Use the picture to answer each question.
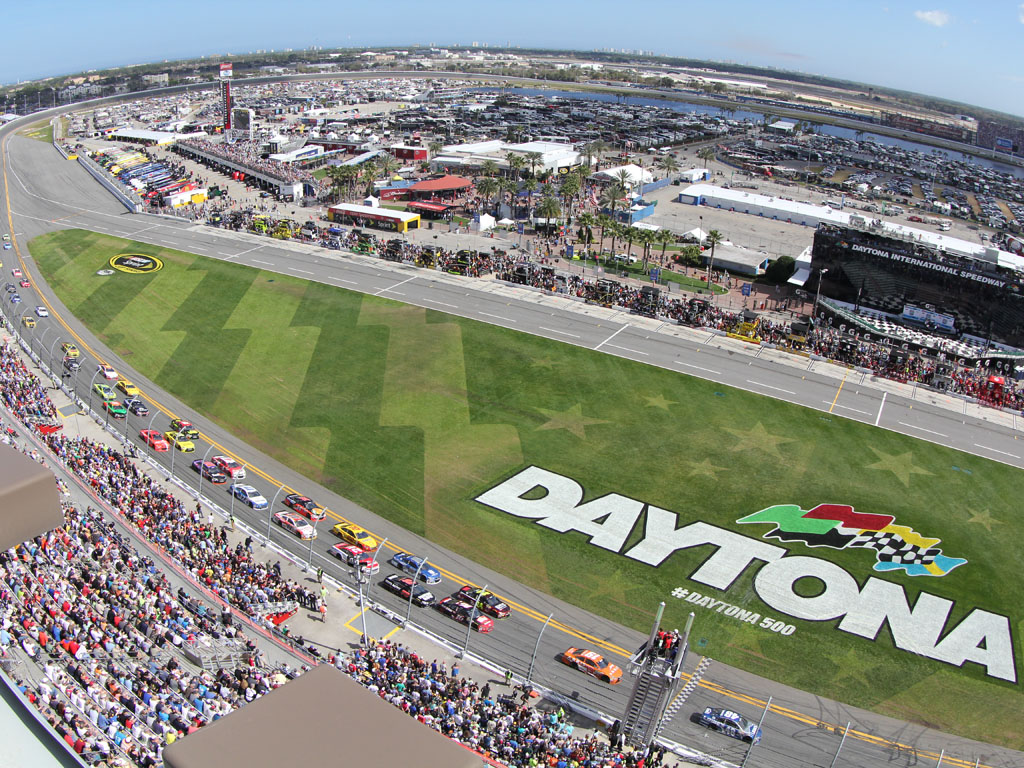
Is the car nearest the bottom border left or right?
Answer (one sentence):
The car nearest the bottom border appears in the right half of the scene.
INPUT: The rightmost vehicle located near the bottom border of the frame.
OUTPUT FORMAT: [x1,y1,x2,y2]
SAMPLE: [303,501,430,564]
[692,702,758,744]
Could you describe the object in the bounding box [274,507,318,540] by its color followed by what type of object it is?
white car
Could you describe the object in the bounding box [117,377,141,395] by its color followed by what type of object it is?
yellow car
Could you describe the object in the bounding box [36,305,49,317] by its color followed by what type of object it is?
white vehicle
